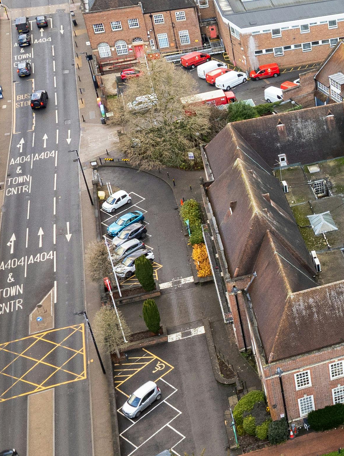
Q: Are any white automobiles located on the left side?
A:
Yes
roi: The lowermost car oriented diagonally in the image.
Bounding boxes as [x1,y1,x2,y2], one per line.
[120,382,166,423]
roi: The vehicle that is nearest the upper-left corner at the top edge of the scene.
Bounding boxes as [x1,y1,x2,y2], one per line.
[15,16,29,32]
